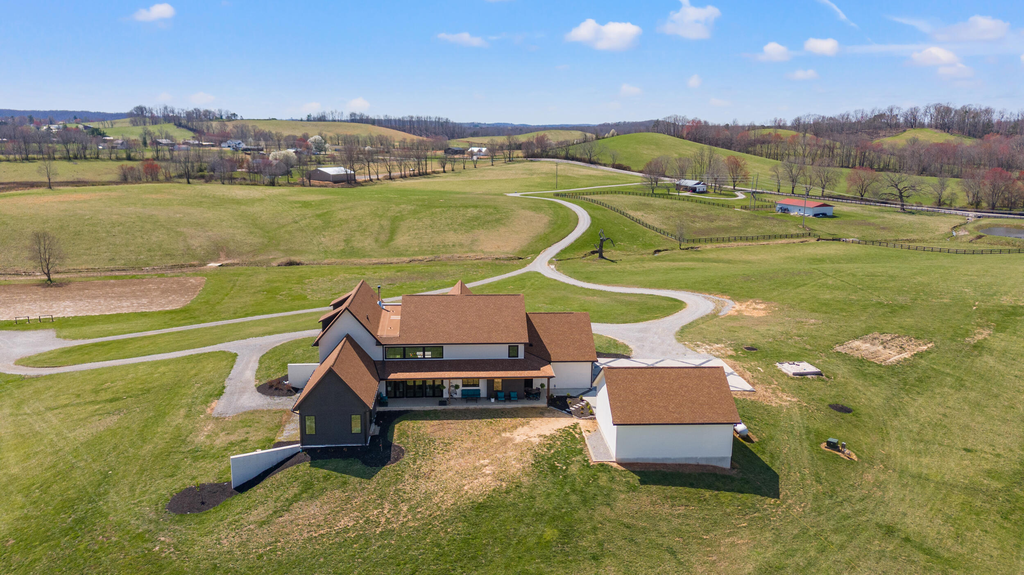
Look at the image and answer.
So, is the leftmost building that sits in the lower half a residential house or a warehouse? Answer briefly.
residential house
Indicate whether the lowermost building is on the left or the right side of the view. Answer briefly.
right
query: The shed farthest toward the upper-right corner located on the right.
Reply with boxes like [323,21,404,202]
[770,199,824,217]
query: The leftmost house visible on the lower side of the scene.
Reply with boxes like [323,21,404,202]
[290,279,598,449]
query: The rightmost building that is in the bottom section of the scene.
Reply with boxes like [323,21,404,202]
[592,365,742,469]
